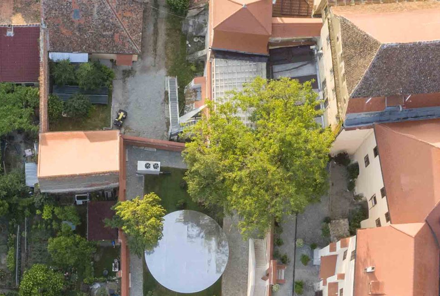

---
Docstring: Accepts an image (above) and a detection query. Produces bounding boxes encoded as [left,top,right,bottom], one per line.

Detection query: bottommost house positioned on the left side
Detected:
[38,130,120,191]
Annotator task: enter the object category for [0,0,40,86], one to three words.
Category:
house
